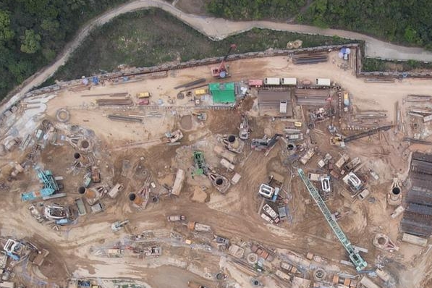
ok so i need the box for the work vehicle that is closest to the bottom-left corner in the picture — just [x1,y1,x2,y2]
[110,219,131,234]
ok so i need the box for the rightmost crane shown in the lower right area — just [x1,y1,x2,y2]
[299,169,372,276]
